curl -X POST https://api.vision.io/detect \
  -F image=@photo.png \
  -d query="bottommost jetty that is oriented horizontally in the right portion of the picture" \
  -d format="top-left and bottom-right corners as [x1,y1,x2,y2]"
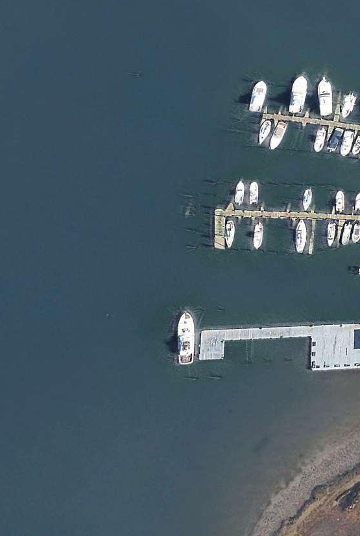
[214,202,360,255]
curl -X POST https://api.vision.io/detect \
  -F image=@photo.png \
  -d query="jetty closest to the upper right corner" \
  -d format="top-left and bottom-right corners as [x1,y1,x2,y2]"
[260,103,360,137]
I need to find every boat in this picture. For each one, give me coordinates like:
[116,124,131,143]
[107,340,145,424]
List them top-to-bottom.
[288,76,306,114]
[318,77,333,116]
[249,81,266,113]
[342,93,355,118]
[258,119,272,144]
[272,120,288,150]
[315,127,326,152]
[327,128,341,152]
[341,130,354,156]
[235,181,244,204]
[249,182,258,204]
[303,188,312,211]
[335,191,344,212]
[355,193,360,211]
[295,220,306,254]
[225,221,236,247]
[326,222,336,245]
[352,222,360,242]
[254,223,263,249]
[342,223,353,244]
[178,312,195,364]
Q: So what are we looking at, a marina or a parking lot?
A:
marina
